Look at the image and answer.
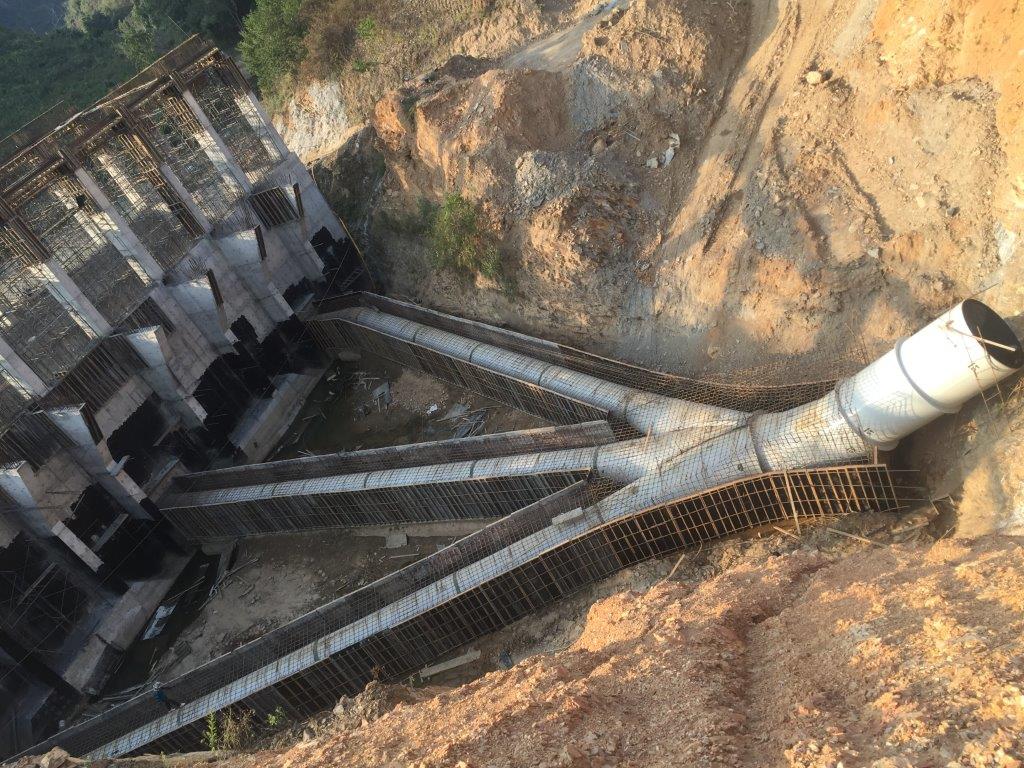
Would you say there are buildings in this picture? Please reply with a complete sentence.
No, I can't see a single building in this photo.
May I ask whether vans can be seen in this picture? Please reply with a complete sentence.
No, no van is visible in the view.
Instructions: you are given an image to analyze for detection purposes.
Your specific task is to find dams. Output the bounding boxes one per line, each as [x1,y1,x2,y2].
[0,53,365,697]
